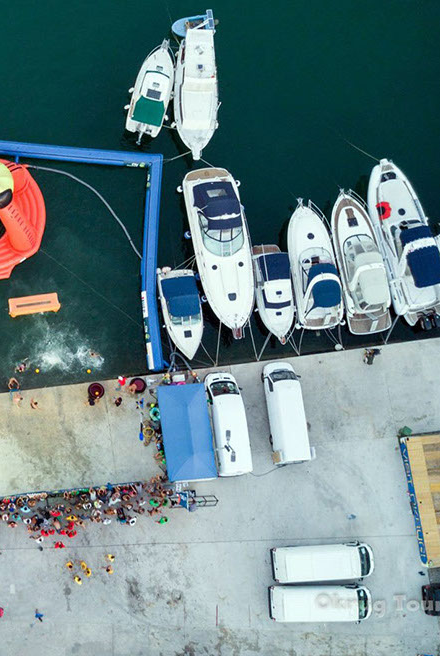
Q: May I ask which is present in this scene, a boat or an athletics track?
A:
boat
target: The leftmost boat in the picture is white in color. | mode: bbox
[124,38,179,145]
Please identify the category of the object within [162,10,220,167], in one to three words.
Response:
boat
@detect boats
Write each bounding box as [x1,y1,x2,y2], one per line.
[158,270,213,366]
[341,147,440,341]
[279,192,346,351]
[330,186,391,340]
[170,170,260,363]
[162,14,218,42]
[256,246,301,358]
[124,38,179,145]
[162,10,220,167]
